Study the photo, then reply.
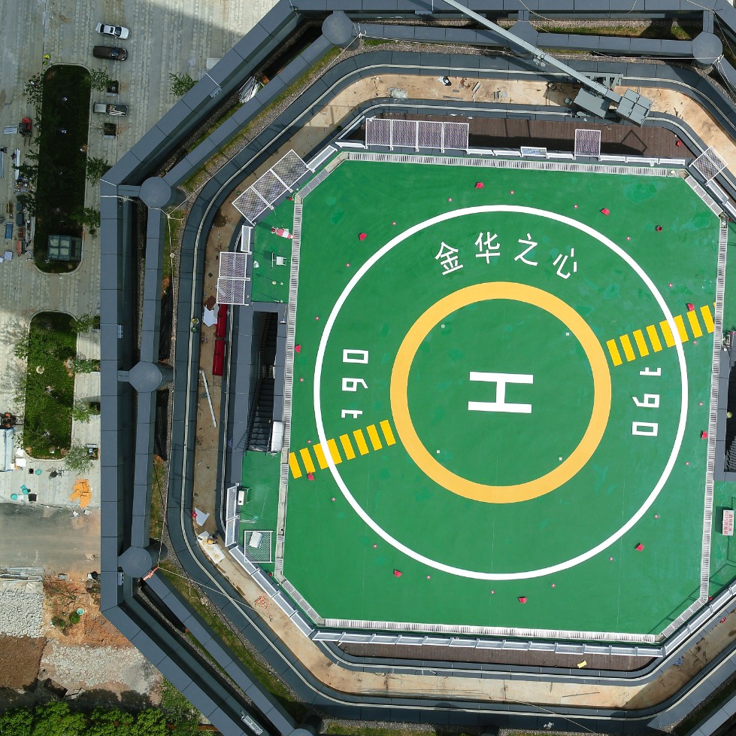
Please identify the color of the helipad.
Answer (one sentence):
The helipad is green.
